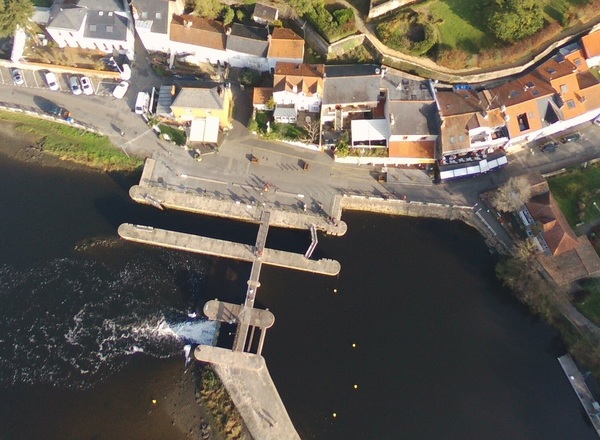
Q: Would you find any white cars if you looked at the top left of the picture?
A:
Yes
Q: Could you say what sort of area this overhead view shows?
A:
residential area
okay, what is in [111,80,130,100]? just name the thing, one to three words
car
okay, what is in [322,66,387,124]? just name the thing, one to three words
house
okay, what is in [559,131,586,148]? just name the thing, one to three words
car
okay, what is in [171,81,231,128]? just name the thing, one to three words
house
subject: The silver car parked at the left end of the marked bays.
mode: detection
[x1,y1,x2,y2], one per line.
[8,65,25,84]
